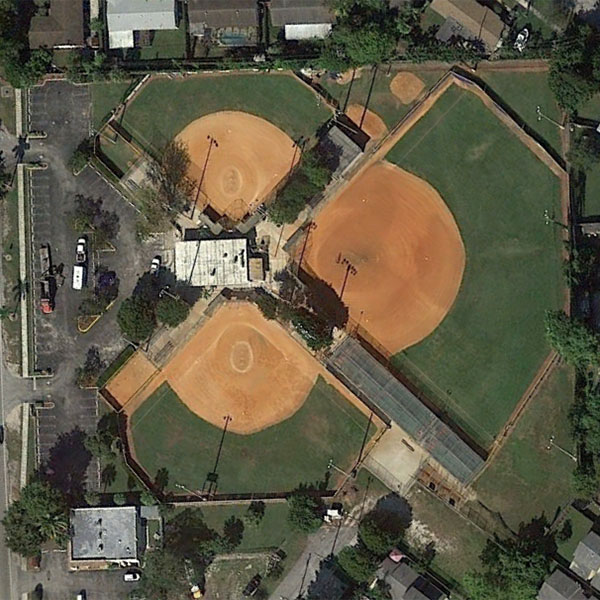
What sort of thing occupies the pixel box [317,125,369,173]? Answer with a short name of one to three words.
shed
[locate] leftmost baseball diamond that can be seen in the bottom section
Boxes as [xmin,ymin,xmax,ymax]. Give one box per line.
[121,302,387,501]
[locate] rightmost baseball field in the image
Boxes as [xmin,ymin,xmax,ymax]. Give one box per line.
[296,74,572,473]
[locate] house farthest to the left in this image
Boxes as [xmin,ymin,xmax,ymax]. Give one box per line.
[50,0,86,47]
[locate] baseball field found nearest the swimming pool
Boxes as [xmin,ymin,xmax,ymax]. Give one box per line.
[119,71,340,218]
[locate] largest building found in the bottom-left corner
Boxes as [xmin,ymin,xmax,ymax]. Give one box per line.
[70,506,143,569]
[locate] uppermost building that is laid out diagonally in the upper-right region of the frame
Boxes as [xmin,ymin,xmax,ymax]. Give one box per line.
[428,0,506,54]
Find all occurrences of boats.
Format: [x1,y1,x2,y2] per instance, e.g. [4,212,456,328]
[512,26,527,49]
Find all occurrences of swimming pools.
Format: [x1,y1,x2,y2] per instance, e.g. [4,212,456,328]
[204,26,258,47]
